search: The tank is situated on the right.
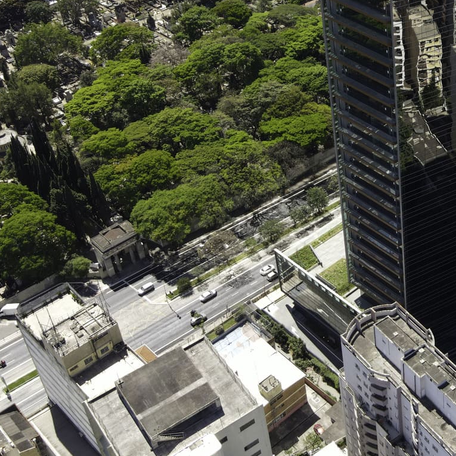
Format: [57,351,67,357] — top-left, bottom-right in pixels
[262,355,291,387]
